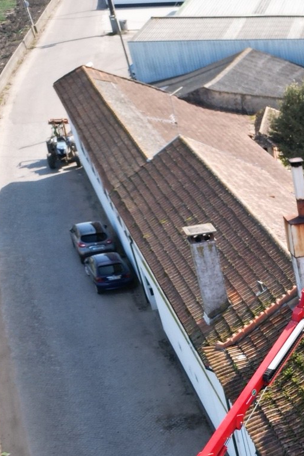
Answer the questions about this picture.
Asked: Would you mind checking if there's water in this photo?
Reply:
No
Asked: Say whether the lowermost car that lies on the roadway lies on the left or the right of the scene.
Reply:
left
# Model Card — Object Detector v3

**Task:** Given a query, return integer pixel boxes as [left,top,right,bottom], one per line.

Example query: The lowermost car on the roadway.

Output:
[80,250,128,288]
